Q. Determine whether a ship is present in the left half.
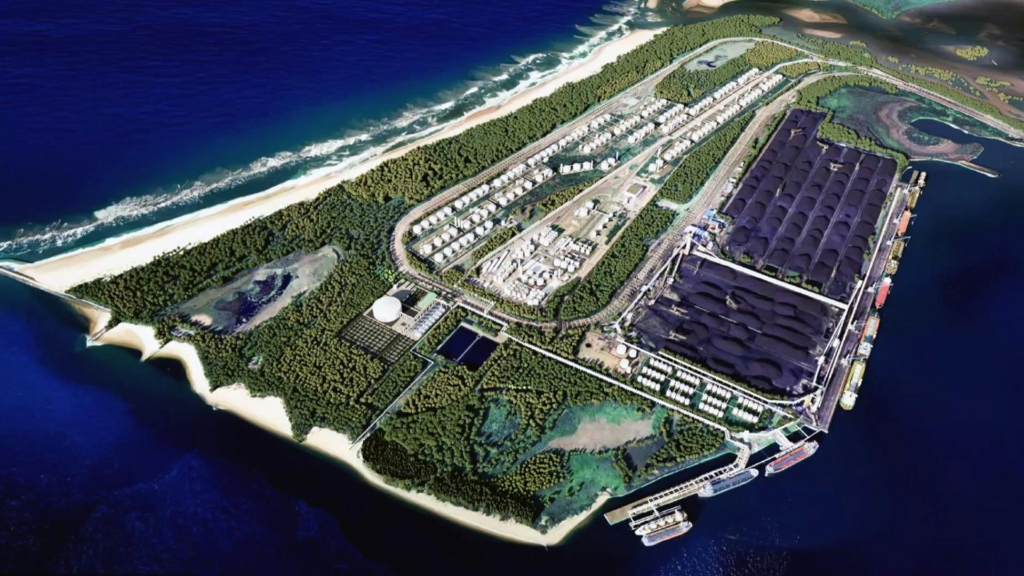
No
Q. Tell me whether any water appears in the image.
Yes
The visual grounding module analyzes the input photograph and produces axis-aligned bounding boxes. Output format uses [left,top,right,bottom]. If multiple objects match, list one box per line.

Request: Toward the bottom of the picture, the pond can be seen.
[433,326,498,370]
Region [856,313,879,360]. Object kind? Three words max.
ship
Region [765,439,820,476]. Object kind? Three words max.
ship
